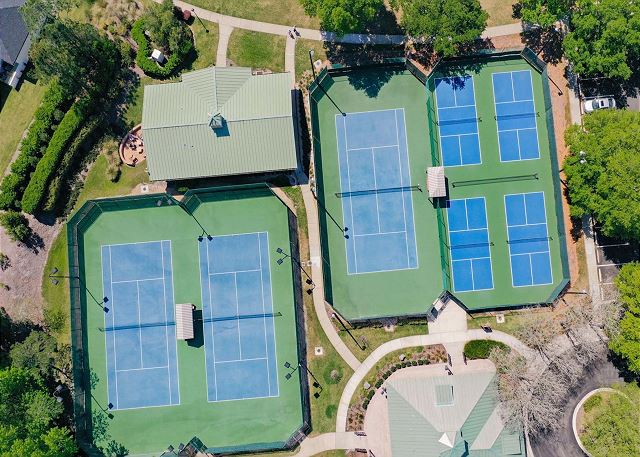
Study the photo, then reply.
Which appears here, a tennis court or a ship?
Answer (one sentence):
I can see a tennis court in this picture.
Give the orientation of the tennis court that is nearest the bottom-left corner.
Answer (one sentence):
From this overhead view, the tennis court that is nearest the bottom-left corner appears to run up and down.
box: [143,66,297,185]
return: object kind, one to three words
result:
building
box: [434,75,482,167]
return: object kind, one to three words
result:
sports court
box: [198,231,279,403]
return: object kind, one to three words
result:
tennis court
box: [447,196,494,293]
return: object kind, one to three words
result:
sports court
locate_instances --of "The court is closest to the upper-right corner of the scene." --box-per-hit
[492,69,540,162]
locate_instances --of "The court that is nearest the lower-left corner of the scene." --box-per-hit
[101,239,179,411]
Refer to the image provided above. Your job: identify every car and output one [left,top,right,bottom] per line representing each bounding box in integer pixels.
[585,97,618,113]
